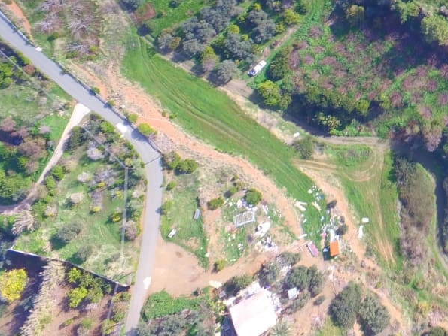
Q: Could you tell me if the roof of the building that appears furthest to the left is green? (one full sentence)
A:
No, from above the roof of the building that appears furthest to the left looks white.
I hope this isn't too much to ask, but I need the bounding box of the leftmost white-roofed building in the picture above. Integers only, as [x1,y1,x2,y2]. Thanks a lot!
[233,284,286,336]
